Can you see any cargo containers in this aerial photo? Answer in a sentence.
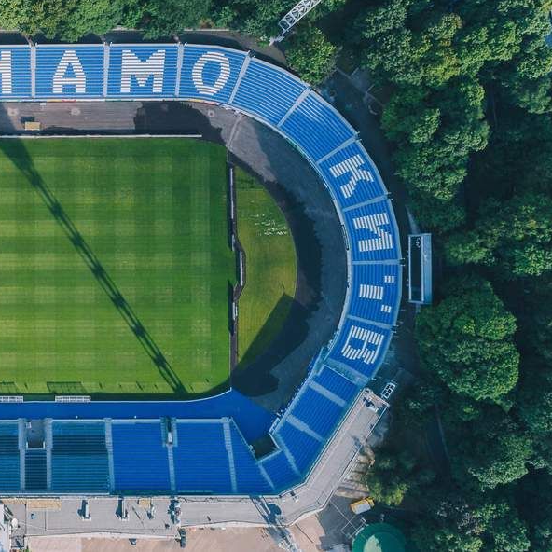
No, the frame has no cargo container in it.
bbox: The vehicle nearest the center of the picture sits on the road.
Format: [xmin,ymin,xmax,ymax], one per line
[381,381,397,400]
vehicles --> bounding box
[381,381,397,400]
[351,500,375,517]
